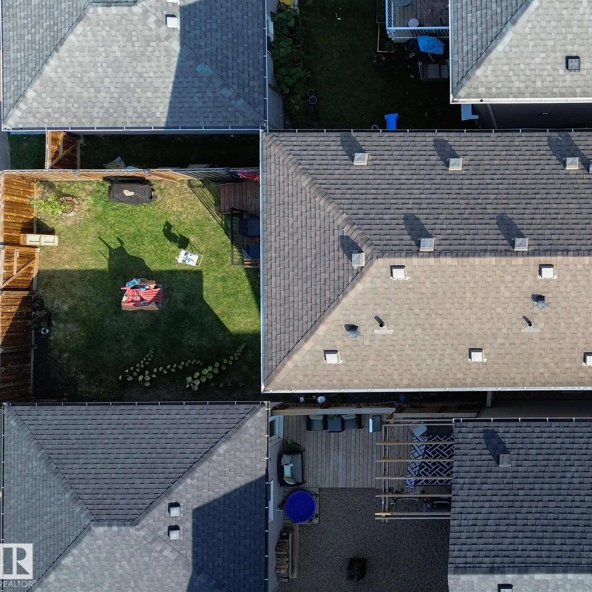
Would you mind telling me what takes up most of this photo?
buildings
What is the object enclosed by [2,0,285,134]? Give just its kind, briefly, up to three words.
building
